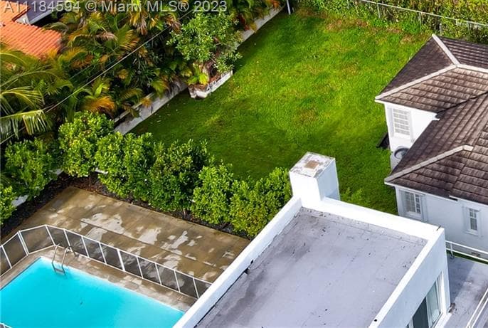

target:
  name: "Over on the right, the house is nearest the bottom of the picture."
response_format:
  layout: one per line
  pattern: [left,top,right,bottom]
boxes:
[173,147,488,328]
